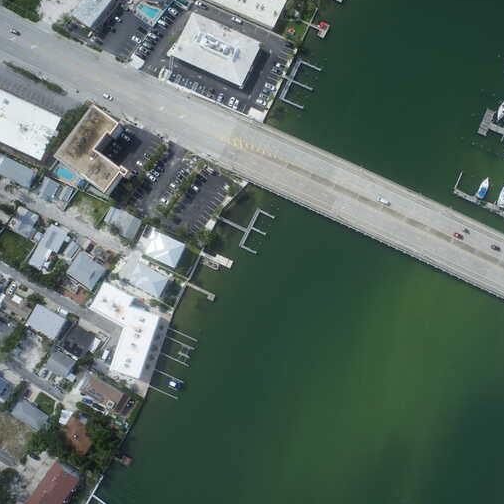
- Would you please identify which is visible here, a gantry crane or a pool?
pool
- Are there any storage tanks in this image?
No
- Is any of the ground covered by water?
Yes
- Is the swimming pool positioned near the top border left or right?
left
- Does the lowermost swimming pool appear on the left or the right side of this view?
left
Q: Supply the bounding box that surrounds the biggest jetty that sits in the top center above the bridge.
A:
[279,58,321,110]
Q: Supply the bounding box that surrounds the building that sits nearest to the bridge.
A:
[167,12,260,88]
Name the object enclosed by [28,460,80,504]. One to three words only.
building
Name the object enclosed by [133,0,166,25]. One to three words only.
swimming pool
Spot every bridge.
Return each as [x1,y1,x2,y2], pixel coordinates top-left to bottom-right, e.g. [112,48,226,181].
[211,109,504,297]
